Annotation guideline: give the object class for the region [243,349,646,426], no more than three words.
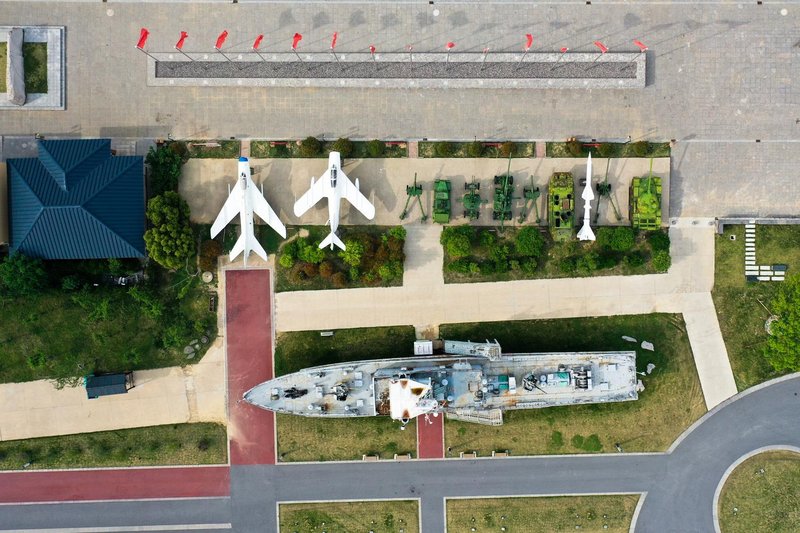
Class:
boat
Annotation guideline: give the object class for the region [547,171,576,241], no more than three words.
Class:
vehicle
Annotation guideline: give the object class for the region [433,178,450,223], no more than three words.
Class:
car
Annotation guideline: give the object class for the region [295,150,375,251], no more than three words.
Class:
airplane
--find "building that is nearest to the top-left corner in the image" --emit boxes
[6,138,145,259]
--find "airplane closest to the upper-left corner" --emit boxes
[210,154,282,264]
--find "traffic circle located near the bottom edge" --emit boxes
[634,378,800,533]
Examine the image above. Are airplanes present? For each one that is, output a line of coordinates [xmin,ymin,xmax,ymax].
[210,154,282,264]
[295,150,375,251]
